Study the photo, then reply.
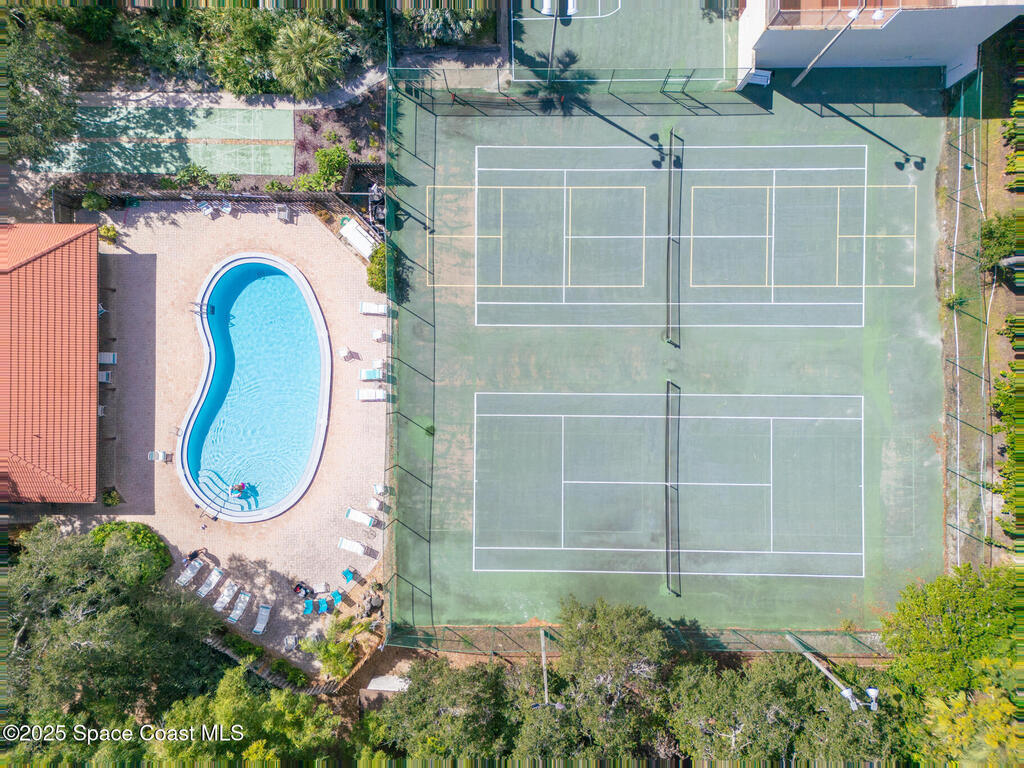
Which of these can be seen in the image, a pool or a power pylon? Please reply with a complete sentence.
I can see a pool in this picture.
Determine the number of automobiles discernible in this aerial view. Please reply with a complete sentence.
There are no automobiles in the image.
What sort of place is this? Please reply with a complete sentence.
This looks like a sports ground.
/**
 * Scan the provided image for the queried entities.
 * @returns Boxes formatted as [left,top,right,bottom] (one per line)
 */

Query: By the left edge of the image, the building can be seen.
[0,221,117,505]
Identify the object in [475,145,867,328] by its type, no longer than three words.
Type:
tennis court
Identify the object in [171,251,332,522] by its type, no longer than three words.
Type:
swimming pool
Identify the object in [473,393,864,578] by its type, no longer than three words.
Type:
tennis court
